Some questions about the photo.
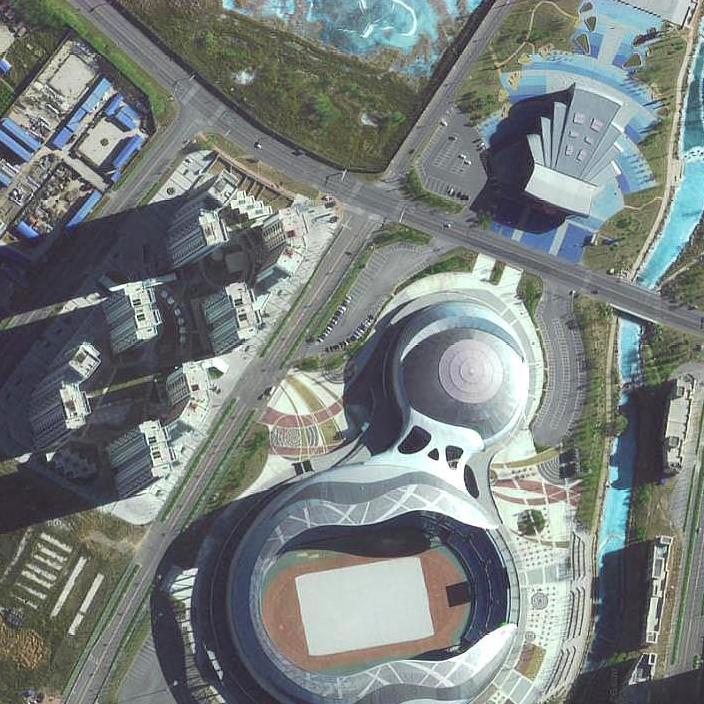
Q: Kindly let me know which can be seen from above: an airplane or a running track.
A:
running track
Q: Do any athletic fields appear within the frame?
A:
Yes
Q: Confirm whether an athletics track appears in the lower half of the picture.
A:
Yes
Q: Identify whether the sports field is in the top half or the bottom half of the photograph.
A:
bottom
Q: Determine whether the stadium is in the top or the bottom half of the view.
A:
bottom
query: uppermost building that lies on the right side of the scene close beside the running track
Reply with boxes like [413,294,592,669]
[338,302,535,532]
